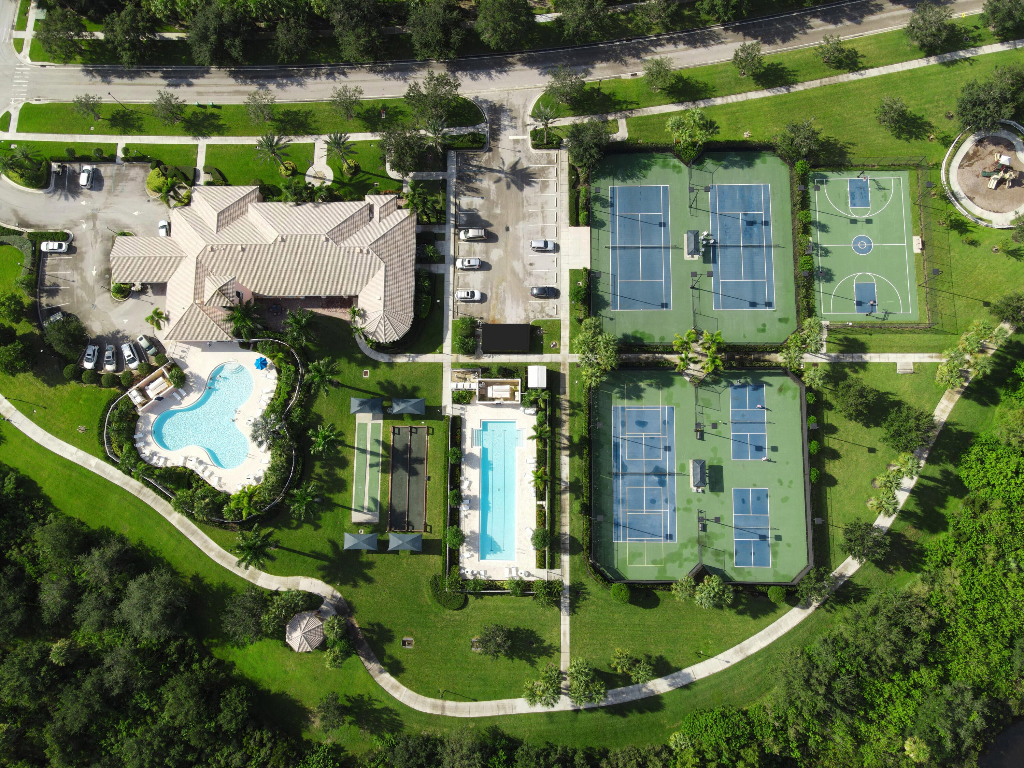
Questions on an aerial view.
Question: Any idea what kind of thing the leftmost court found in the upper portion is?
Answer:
tennis court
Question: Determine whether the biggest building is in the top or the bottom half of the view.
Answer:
top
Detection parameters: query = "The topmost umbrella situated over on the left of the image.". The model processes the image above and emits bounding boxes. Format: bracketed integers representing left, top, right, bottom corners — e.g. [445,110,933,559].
[254,357,268,371]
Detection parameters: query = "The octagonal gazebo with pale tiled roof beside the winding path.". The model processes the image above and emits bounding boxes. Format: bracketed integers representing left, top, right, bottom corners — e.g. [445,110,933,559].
[286,612,327,653]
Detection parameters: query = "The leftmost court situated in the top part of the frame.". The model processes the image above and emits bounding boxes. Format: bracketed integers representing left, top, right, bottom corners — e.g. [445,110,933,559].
[591,153,696,342]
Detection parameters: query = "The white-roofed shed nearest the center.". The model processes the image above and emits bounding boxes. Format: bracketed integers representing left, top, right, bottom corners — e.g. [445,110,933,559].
[528,365,546,389]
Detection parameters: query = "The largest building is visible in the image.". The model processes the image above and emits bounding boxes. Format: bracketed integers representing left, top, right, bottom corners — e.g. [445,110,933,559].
[110,186,417,342]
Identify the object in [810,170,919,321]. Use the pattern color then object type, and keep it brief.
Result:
green basketball court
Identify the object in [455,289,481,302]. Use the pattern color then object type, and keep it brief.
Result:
white vehicle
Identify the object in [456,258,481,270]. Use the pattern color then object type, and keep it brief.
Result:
white vehicle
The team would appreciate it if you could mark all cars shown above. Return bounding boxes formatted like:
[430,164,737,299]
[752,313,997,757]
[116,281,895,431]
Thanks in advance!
[44,308,69,326]
[460,229,487,242]
[531,287,557,299]
[158,217,171,236]
[80,167,95,188]
[136,332,159,357]
[43,242,68,253]
[122,342,140,370]
[84,345,101,370]
[530,240,555,252]
[104,345,119,371]
[456,258,481,270]
[455,289,481,302]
